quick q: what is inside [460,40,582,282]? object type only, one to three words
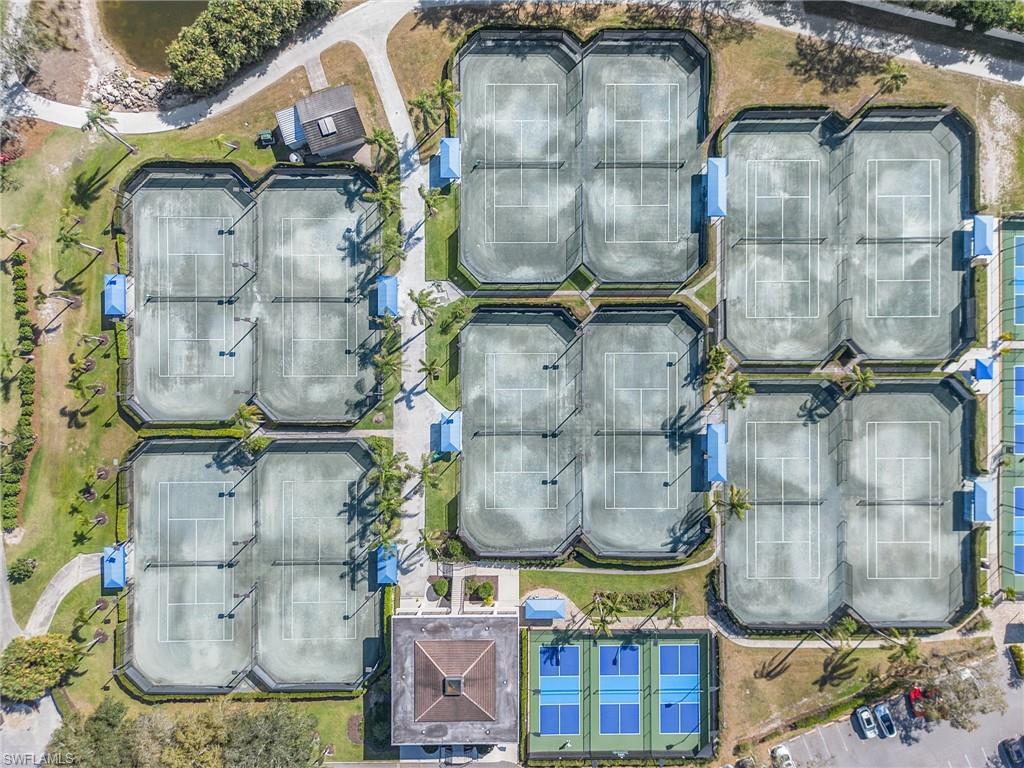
tennis court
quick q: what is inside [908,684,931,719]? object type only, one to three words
car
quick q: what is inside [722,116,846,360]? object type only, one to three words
tennis court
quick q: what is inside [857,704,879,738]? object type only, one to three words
car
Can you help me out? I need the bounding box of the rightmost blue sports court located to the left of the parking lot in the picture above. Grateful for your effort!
[651,636,710,753]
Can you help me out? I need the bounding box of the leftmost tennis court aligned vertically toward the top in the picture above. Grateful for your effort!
[134,174,256,420]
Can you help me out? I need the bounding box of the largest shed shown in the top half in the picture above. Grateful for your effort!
[275,85,369,160]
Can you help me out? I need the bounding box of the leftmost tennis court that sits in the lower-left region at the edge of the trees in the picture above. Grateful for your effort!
[134,440,257,684]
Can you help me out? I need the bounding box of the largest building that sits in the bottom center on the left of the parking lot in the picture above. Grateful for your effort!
[391,574,520,767]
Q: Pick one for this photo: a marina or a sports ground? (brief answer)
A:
sports ground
